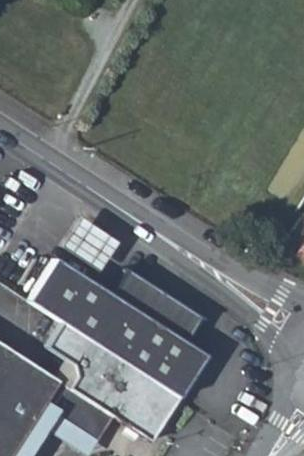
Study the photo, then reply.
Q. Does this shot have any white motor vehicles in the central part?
Yes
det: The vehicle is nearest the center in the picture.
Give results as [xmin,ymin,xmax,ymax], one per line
[132,225,153,242]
